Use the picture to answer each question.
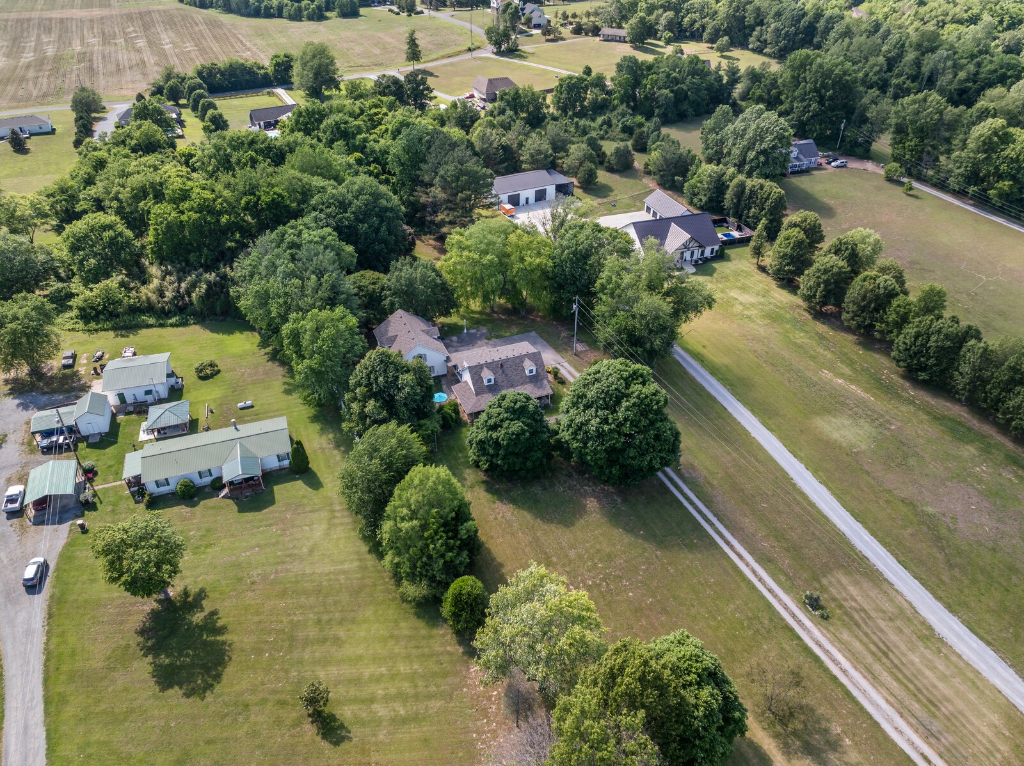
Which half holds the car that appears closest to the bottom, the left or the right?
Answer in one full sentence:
The car that appears closest to the bottom is on the left side of the image.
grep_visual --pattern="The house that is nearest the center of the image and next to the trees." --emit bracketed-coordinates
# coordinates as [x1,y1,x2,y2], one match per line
[444,342,557,426]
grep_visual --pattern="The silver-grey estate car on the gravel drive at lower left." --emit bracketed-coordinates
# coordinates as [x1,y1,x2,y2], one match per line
[16,556,45,591]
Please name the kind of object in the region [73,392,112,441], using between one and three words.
shed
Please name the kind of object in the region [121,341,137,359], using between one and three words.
vehicle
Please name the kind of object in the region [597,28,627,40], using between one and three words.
house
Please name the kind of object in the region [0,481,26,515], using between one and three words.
truck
